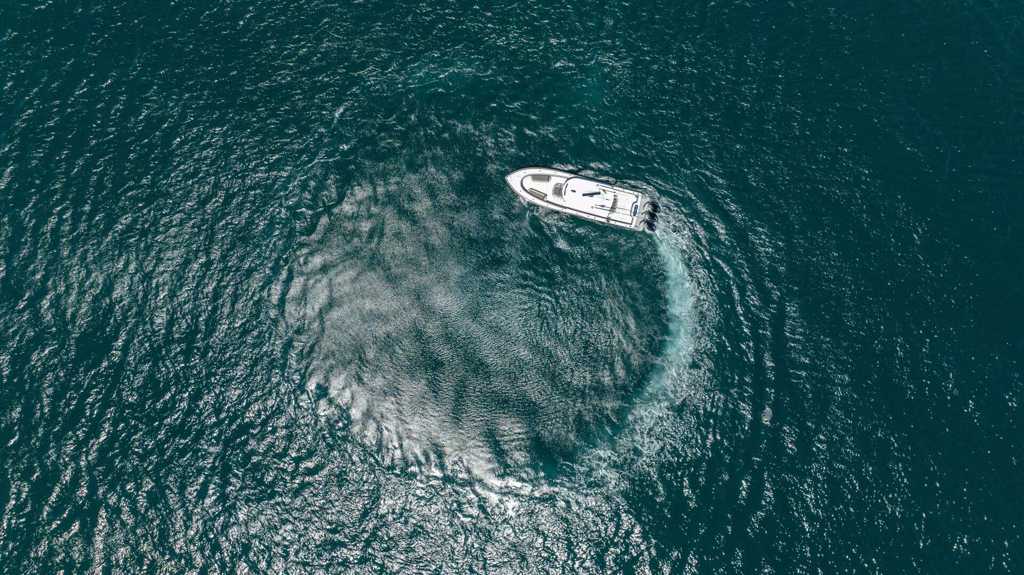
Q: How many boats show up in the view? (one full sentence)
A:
Just 1 boat appears in this view.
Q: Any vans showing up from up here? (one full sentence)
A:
No, the picture doesn't show any van.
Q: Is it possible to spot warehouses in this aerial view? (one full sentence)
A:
No, there appears to be no warehouse in this shot.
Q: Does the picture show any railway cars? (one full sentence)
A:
No, the picture doesn't show any railway car.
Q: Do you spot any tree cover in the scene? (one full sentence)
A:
No, tree cover can't be seen anywhere here.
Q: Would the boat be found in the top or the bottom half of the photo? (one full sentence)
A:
You can find the boat in the top half.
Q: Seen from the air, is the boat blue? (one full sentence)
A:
No, the color of the boat is white.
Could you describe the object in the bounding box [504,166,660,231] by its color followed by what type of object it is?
white boat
